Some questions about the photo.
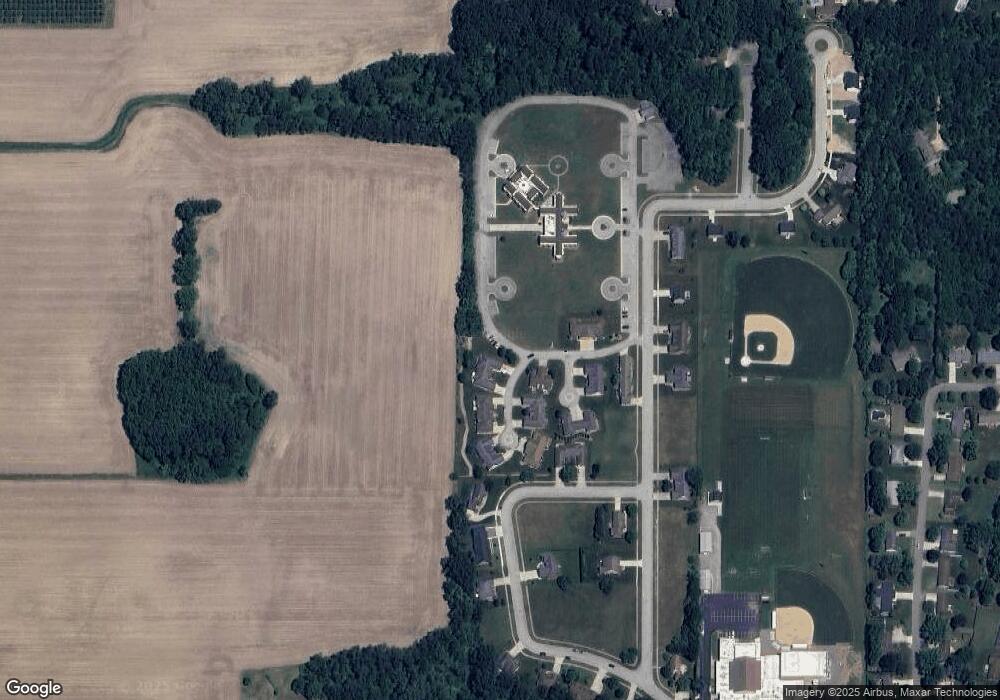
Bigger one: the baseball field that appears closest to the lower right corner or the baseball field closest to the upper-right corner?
the baseball field closest to the upper-right corner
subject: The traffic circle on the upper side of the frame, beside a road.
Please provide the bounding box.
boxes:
[803,25,842,64]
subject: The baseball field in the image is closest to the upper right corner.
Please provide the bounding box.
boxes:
[732,256,854,380]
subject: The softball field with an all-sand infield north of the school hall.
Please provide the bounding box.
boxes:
[775,569,852,646]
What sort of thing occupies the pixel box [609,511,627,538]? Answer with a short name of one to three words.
house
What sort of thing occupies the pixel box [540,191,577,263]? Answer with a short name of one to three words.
building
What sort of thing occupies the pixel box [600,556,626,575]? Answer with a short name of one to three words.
house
